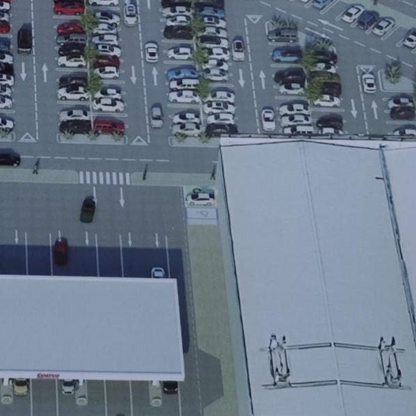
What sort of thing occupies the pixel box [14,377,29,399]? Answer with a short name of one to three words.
car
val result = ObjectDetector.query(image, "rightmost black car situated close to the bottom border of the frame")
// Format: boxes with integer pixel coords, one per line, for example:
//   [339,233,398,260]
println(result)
[163,379,178,396]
